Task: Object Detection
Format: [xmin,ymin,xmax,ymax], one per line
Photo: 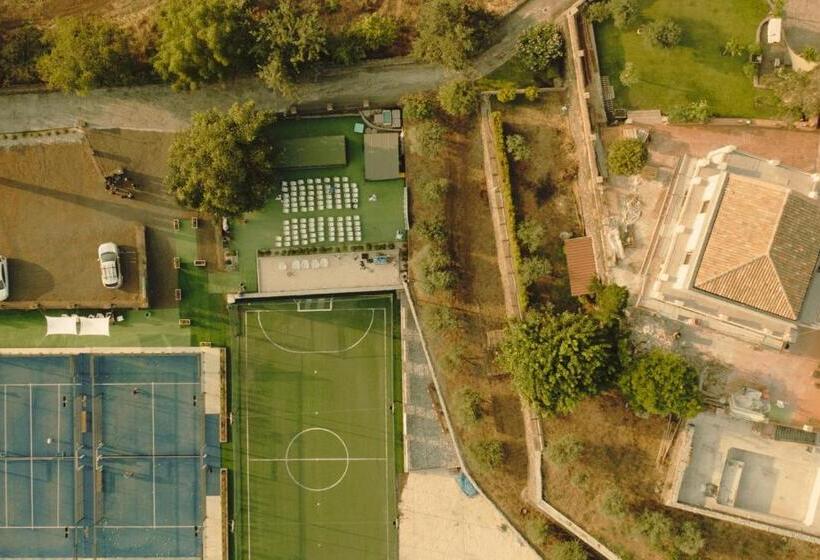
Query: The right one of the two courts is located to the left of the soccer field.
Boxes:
[92,354,205,560]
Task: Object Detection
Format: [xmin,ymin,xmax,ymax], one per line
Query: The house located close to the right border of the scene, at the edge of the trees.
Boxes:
[639,143,820,361]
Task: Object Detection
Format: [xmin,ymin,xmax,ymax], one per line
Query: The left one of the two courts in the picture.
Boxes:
[0,354,82,560]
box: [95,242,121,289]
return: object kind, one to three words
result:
car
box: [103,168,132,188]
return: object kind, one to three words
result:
work vehicle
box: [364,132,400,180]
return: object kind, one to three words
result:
shed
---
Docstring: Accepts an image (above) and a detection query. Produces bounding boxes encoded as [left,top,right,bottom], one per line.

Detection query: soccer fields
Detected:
[230,292,396,560]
